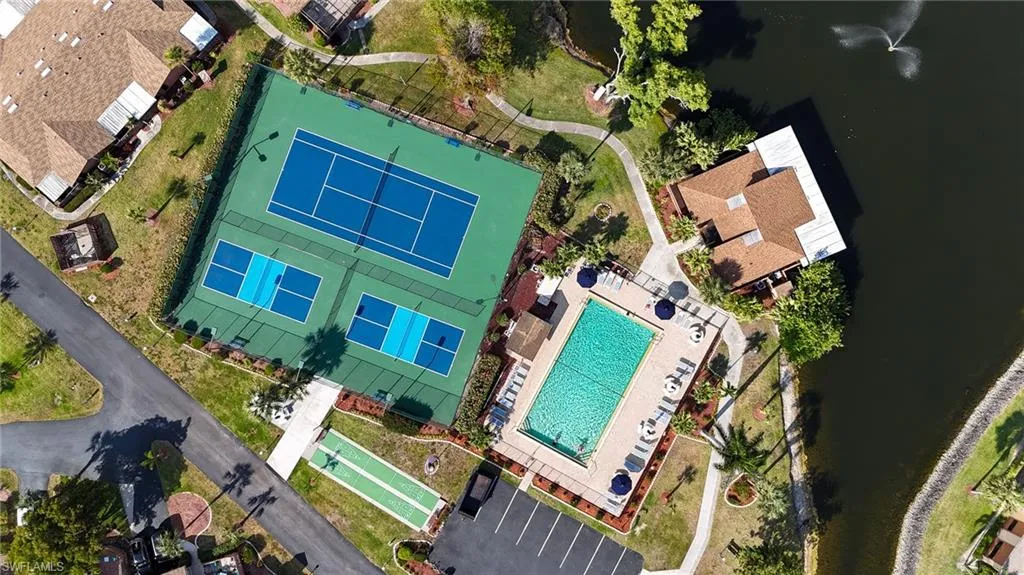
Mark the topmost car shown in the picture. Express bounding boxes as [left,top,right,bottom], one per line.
[463,471,495,517]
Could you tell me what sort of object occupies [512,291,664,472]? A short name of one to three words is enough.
swimming pool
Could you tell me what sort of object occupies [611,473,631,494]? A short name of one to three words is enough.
umbrella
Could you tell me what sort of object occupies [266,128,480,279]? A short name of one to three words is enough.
tennis court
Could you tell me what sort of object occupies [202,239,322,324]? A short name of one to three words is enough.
sports court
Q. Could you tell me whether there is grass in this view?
Yes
